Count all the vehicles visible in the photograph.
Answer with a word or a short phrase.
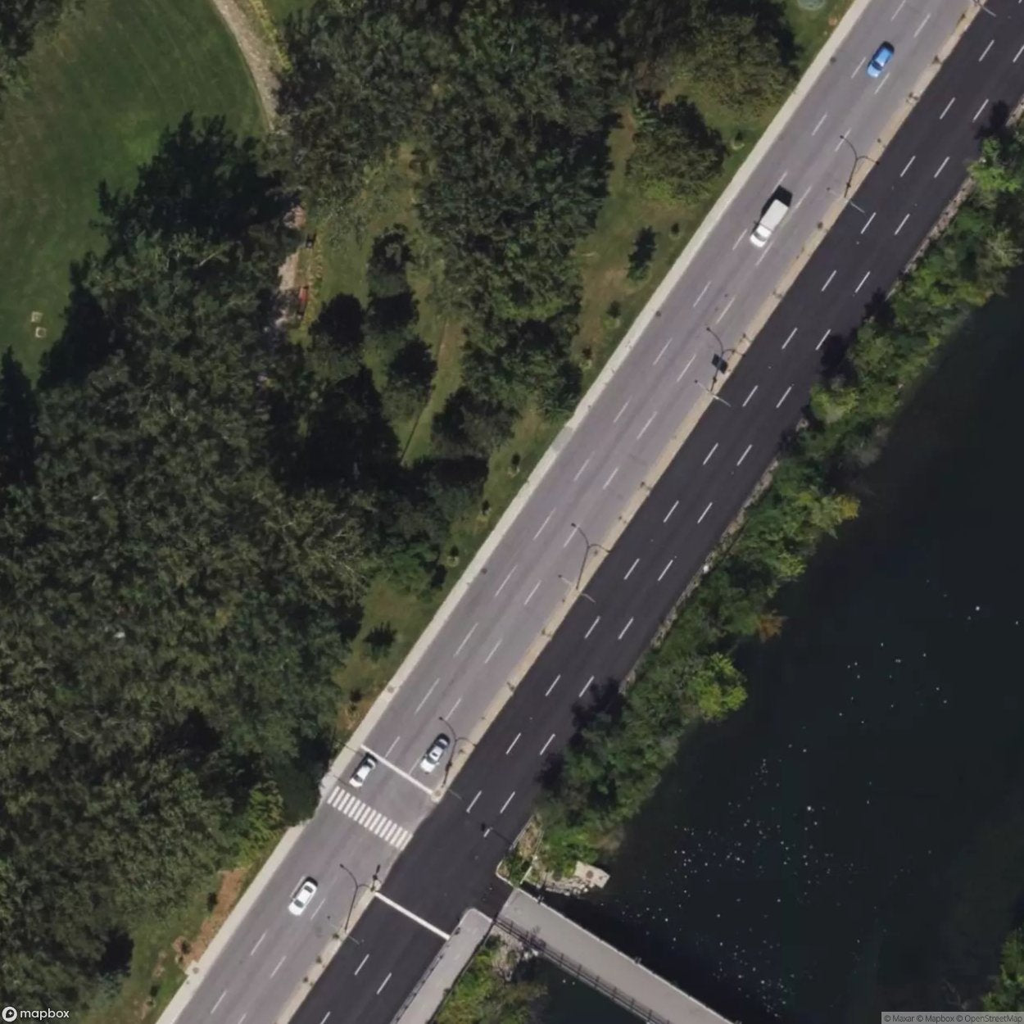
five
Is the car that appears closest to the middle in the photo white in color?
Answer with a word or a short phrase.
Yes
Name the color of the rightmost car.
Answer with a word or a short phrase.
blue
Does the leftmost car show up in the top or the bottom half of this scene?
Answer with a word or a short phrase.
bottom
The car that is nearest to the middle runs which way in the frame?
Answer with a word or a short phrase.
diagonally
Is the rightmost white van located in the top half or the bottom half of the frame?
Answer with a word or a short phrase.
top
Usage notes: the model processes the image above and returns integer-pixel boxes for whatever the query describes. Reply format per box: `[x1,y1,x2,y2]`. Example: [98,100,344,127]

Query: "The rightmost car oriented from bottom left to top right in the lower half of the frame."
[420,735,450,771]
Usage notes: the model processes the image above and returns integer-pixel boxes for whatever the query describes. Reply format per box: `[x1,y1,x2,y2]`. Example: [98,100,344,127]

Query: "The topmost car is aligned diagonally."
[868,44,896,77]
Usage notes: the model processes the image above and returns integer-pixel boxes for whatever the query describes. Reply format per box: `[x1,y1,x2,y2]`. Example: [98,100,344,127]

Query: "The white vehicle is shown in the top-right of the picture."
[751,199,790,248]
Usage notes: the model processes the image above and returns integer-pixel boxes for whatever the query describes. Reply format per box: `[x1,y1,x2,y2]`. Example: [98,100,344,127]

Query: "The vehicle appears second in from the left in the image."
[350,756,377,789]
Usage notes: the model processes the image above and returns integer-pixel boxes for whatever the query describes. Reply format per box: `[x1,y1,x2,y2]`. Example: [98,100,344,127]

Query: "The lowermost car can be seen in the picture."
[288,879,318,915]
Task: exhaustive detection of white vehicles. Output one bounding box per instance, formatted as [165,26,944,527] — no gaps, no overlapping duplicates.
[751,199,790,248]
[288,879,318,915]
[420,735,450,771]
[350,756,377,789]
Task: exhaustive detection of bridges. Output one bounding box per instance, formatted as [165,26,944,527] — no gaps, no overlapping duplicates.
[494,889,731,1024]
